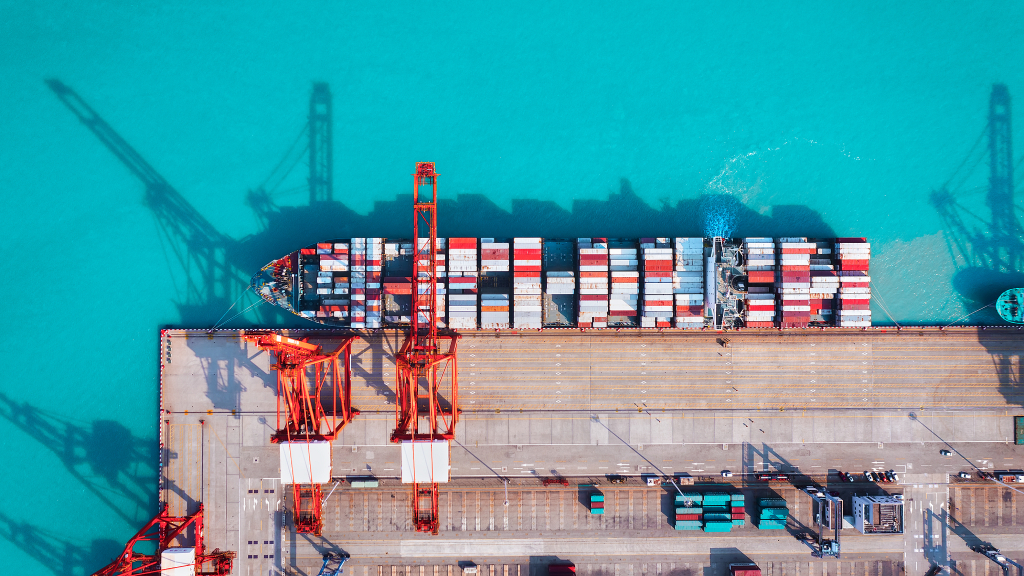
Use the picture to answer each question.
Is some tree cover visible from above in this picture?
No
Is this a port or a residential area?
port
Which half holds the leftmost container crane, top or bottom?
bottom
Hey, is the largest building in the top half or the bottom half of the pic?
bottom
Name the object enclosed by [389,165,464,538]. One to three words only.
container crane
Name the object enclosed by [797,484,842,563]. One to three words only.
crane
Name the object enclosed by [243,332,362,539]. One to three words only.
container crane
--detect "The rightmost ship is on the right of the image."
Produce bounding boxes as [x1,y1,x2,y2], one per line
[994,286,1024,324]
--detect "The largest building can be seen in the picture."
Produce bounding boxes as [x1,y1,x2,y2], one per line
[852,496,904,535]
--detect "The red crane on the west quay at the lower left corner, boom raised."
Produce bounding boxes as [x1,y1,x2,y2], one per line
[92,501,245,576]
